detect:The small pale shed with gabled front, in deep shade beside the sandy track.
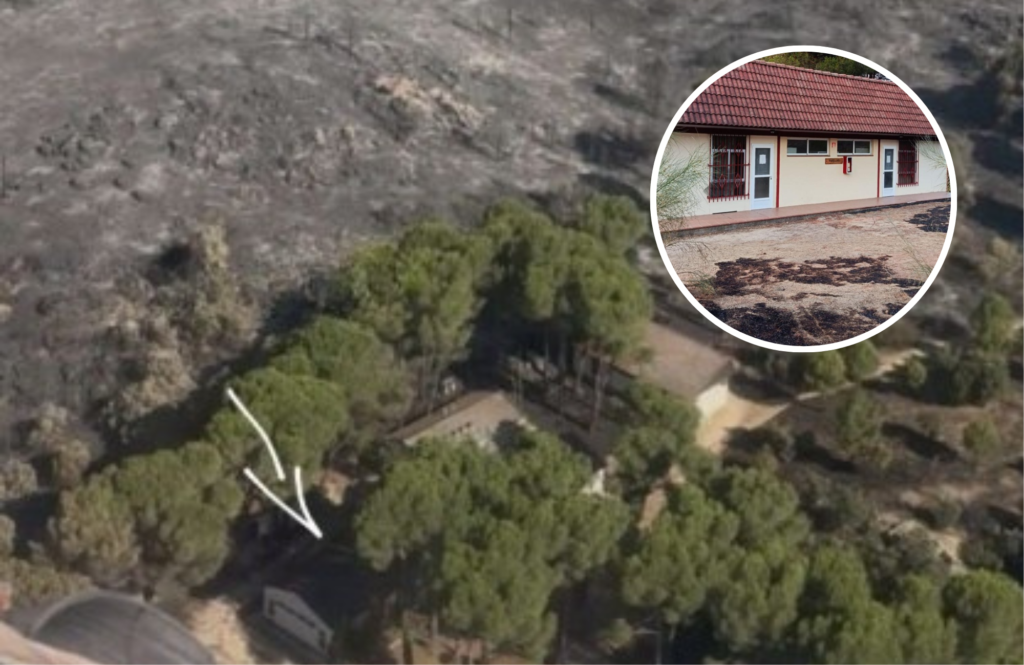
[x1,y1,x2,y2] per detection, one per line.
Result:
[262,576,342,654]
